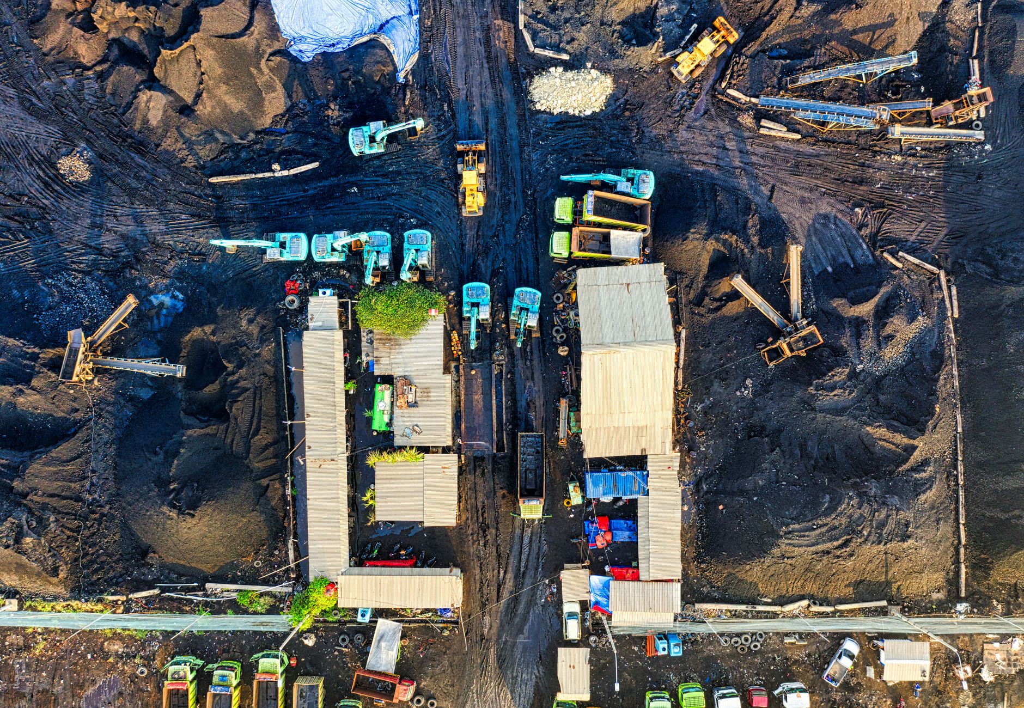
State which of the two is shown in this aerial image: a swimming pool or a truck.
truck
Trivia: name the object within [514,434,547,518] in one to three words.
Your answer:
truck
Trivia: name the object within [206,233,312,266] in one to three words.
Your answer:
work vehicle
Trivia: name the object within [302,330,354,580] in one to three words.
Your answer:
shed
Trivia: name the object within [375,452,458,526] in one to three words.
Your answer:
house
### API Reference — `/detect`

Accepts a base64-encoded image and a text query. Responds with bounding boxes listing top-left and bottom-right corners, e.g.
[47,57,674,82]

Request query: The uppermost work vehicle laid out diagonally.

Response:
[671,15,731,89]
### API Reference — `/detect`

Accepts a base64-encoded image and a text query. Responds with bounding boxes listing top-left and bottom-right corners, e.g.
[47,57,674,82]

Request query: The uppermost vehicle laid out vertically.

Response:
[457,143,488,217]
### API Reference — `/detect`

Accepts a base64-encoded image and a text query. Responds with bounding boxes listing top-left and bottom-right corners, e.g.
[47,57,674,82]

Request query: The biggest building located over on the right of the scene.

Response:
[575,263,676,457]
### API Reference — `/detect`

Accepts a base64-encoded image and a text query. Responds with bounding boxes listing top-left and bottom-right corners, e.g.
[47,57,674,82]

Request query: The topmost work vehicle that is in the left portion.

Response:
[350,114,422,163]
